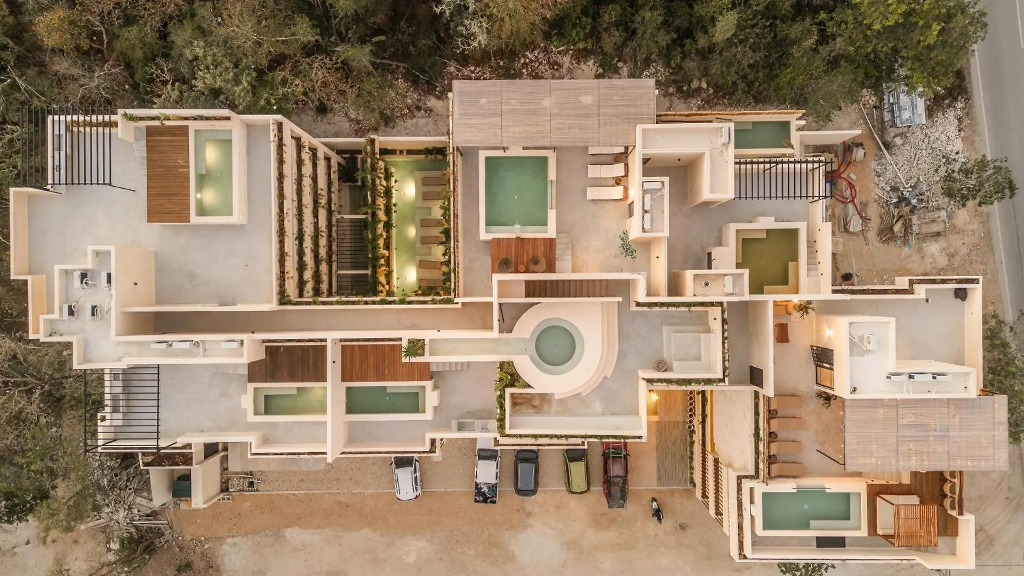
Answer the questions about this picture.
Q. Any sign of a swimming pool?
Yes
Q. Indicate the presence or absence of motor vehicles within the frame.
Yes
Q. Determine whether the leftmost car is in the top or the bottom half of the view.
bottom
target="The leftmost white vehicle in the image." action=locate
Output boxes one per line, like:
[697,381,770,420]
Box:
[390,456,424,502]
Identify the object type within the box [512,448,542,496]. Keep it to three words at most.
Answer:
car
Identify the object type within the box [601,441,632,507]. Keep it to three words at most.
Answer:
vehicle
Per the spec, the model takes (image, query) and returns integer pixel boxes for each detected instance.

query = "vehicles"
[390,456,424,502]
[562,441,591,493]
[472,437,502,504]
[512,448,542,496]
[649,496,666,523]
[601,441,632,507]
